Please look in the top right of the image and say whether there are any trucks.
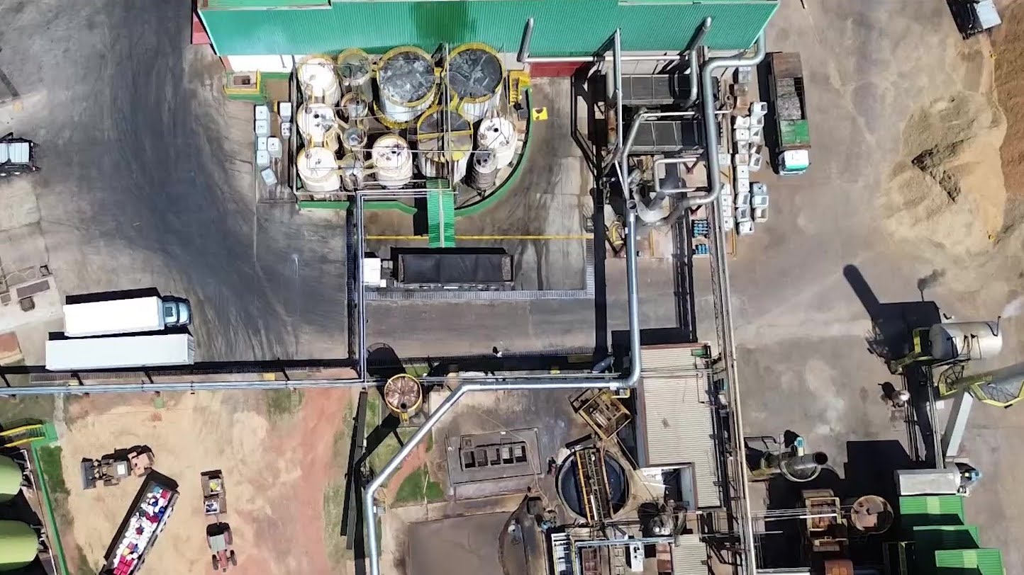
Yes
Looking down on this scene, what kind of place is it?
industrial area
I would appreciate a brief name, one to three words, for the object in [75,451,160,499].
work vehicle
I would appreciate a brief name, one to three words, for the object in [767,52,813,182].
truck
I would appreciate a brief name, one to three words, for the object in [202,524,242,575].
work vehicle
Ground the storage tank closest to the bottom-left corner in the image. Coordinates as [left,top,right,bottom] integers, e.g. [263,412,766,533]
[0,523,54,569]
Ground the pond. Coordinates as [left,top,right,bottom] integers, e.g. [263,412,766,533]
[406,504,522,575]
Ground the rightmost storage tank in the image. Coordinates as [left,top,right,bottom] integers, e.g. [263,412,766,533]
[892,312,1009,381]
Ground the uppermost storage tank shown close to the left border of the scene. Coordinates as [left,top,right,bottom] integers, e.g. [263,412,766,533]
[0,452,37,495]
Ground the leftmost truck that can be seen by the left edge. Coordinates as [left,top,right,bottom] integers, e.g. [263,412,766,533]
[0,139,52,179]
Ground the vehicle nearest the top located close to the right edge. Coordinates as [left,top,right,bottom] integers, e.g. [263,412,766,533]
[934,0,998,45]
